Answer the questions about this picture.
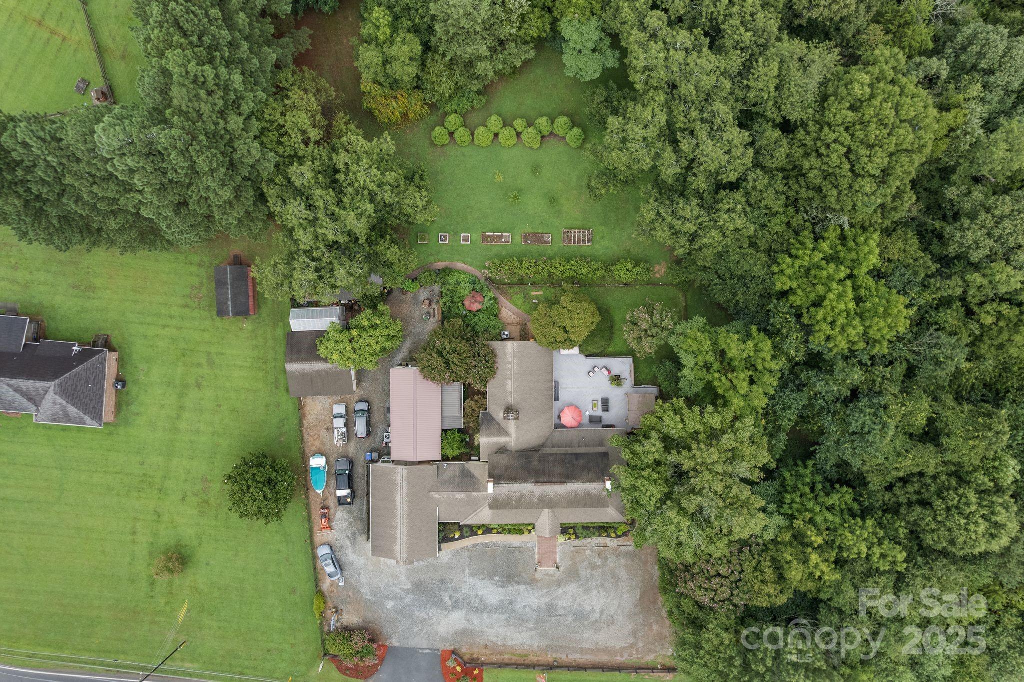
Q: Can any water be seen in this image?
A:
No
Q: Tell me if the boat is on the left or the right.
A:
left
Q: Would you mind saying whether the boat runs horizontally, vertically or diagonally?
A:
vertically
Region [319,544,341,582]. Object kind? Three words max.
car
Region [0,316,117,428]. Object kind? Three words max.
house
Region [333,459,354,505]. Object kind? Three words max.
truck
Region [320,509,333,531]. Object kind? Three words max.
vehicle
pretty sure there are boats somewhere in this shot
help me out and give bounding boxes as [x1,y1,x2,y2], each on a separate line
[309,452,329,497]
